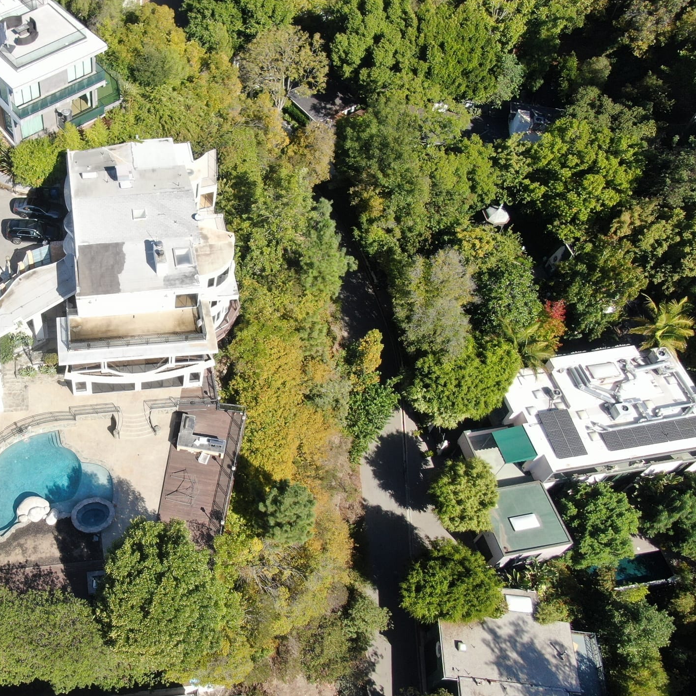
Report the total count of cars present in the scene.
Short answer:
2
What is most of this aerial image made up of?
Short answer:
trees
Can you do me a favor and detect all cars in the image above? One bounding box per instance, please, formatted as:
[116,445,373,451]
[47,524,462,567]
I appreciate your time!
[8,199,67,225]
[3,219,63,249]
